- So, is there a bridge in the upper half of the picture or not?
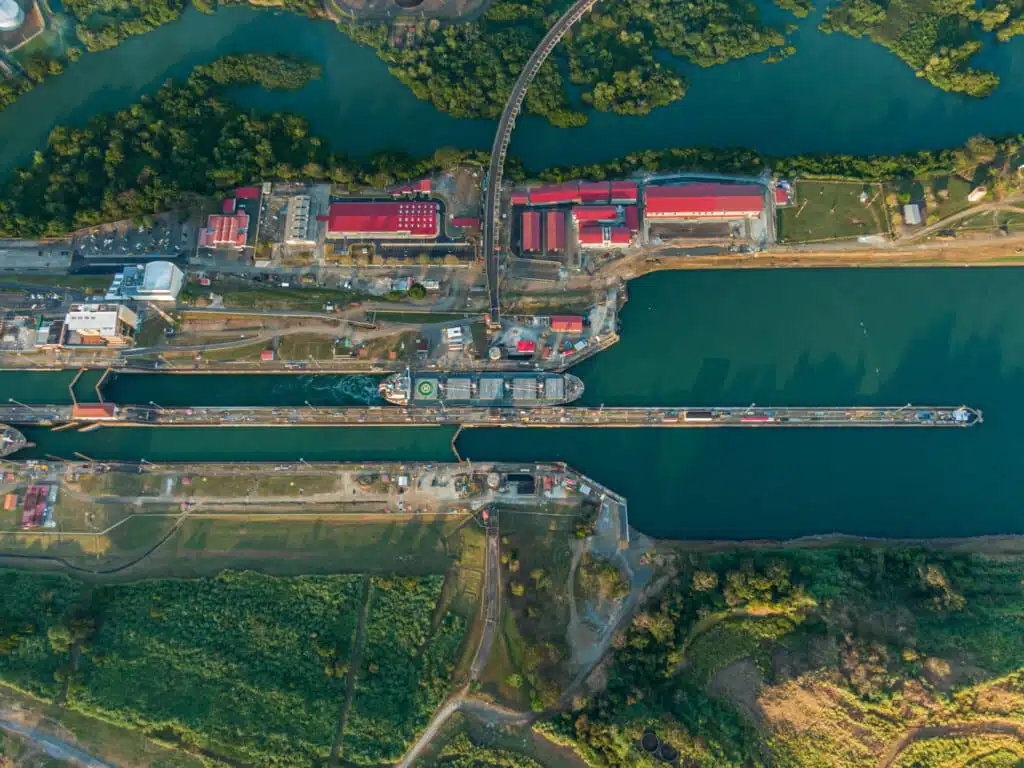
Yes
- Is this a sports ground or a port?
port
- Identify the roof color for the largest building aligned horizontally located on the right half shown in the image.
red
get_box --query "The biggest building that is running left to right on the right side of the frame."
[644,186,765,216]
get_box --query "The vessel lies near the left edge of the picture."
[0,426,27,461]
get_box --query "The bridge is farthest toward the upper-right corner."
[485,0,600,325]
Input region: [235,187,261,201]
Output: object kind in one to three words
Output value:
shed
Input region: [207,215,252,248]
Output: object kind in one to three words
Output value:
building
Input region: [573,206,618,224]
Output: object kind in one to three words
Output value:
building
